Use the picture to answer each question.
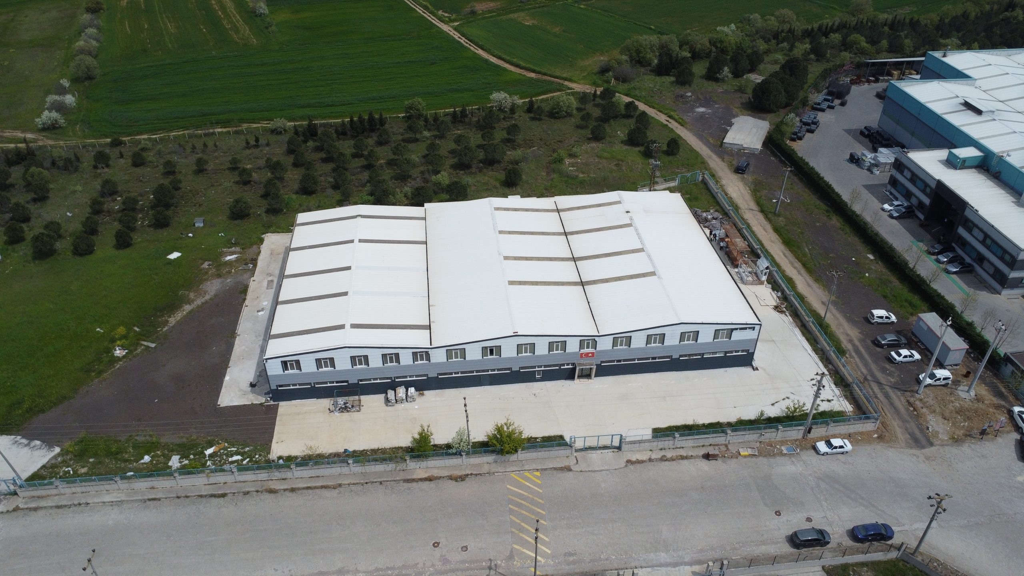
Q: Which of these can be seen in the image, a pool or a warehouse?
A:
warehouse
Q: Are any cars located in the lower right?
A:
Yes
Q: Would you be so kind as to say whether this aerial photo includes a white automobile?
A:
Yes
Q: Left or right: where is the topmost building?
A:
right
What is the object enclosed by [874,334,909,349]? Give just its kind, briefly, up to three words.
car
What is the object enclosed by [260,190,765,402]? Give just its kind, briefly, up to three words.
warehouse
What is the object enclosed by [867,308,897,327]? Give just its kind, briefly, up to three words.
vehicle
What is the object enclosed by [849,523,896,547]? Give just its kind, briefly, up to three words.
car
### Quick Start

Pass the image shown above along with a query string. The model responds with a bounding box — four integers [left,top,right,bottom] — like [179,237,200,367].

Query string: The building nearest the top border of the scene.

[878,42,1024,187]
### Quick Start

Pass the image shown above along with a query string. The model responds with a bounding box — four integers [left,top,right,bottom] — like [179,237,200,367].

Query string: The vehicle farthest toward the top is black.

[736,160,749,174]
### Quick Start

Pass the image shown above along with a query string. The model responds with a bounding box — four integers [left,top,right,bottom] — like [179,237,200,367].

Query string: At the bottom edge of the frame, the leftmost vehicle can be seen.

[788,527,834,552]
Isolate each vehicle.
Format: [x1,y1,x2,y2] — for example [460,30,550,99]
[945,262,977,276]
[935,253,965,266]
[927,244,958,256]
[814,438,854,457]
[918,370,953,388]
[736,160,749,174]
[888,349,922,366]
[874,334,909,349]
[788,527,834,552]
[849,523,896,547]
[890,207,916,220]
[867,308,897,327]
[884,201,909,213]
